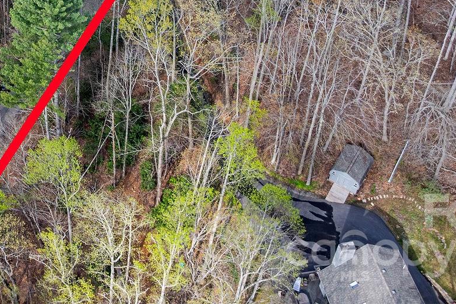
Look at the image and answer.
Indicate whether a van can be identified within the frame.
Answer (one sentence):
No, I can't see a single van in this photo.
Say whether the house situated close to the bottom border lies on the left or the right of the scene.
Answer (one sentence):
The house situated close to the bottom border appears in the right half of the scene.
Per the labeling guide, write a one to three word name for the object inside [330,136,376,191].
shed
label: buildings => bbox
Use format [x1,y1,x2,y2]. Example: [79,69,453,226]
[317,238,436,304]
[330,136,376,191]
